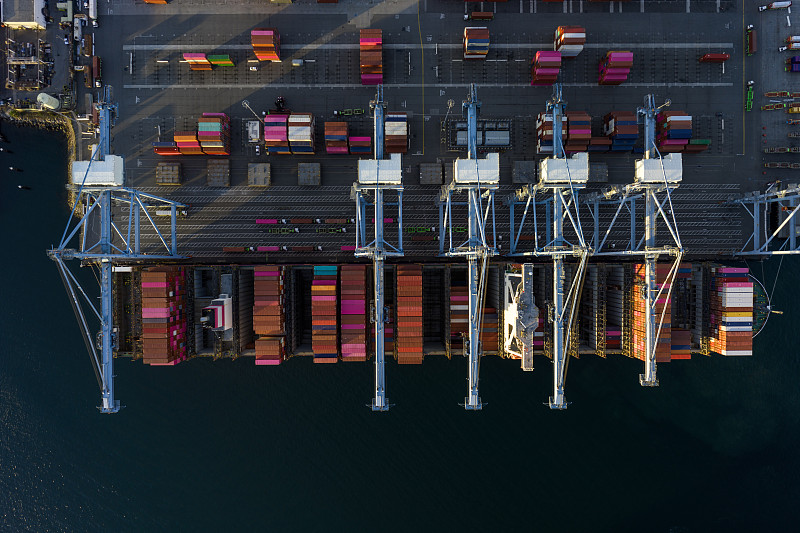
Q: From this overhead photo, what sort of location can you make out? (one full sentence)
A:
The area seen from above is a port.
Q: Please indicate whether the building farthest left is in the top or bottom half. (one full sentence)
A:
The building farthest left sits in the top half of the picture.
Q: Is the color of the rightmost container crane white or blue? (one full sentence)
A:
The color of the rightmost container crane is blue.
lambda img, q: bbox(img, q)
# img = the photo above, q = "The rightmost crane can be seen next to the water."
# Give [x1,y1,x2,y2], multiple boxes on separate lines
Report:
[734,187,800,262]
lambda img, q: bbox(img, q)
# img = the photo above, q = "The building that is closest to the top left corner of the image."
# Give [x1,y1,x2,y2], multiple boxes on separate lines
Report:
[1,0,57,31]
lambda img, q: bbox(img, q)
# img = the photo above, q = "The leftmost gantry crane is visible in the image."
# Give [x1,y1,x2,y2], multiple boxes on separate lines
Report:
[54,81,189,412]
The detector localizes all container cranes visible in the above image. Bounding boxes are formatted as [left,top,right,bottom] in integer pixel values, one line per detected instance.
[345,81,409,412]
[54,81,189,412]
[734,187,800,262]
[578,81,697,388]
[433,81,497,412]
[501,81,588,412]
